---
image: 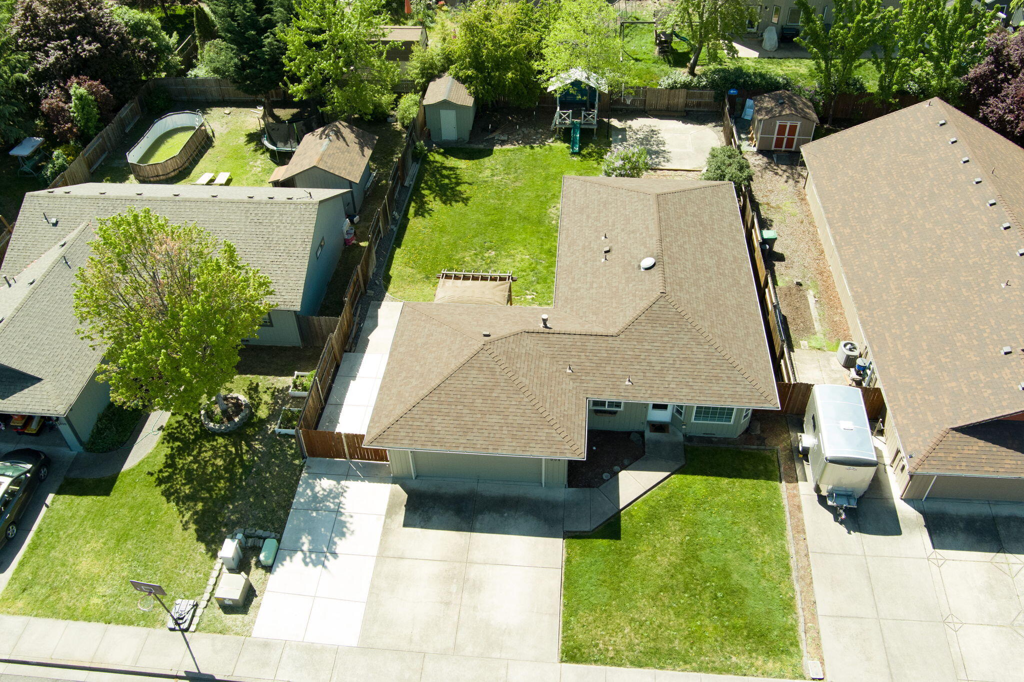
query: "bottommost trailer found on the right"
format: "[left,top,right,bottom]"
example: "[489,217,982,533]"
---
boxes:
[797,384,879,531]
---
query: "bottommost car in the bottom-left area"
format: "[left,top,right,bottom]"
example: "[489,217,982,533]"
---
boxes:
[0,448,49,544]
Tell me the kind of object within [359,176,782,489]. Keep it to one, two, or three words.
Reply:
house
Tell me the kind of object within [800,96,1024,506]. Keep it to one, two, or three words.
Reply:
house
